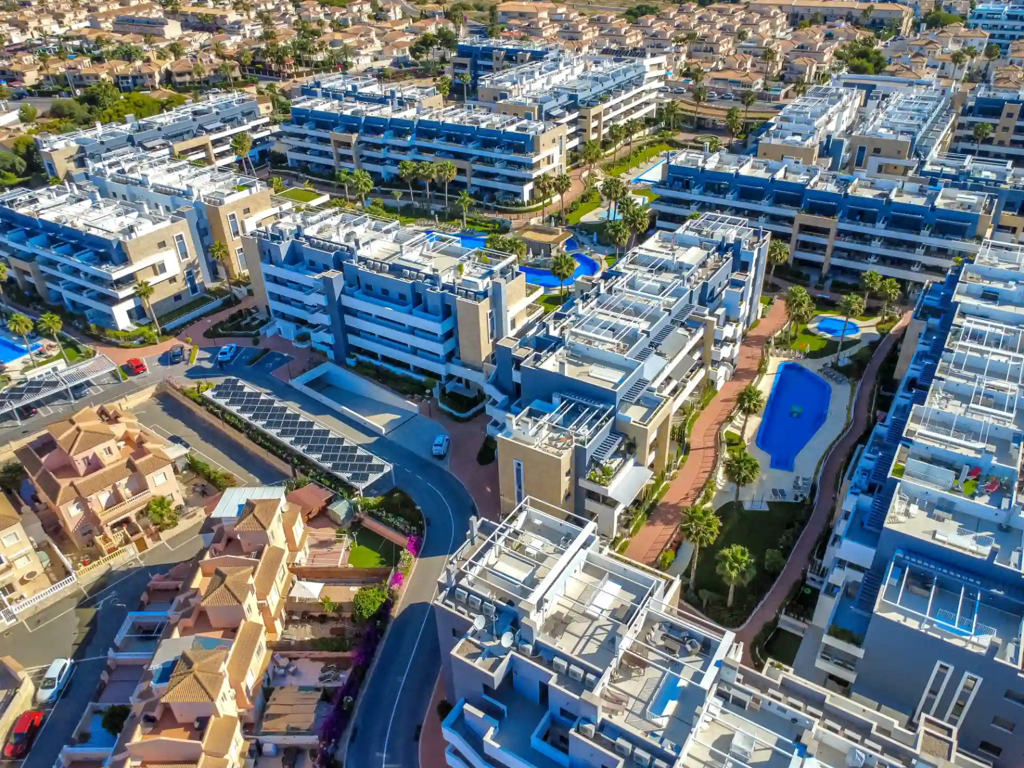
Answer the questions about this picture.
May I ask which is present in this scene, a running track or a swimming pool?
swimming pool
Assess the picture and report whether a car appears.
Yes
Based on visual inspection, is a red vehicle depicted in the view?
Yes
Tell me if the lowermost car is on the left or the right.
left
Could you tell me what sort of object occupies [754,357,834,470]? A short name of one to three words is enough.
swimming pool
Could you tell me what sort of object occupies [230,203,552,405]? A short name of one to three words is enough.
building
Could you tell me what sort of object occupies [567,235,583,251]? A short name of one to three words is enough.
swimming pool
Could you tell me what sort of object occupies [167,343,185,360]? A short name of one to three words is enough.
car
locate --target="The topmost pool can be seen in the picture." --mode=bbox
[632,152,682,183]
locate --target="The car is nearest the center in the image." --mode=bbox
[429,433,452,456]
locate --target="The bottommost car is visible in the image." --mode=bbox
[0,708,43,759]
